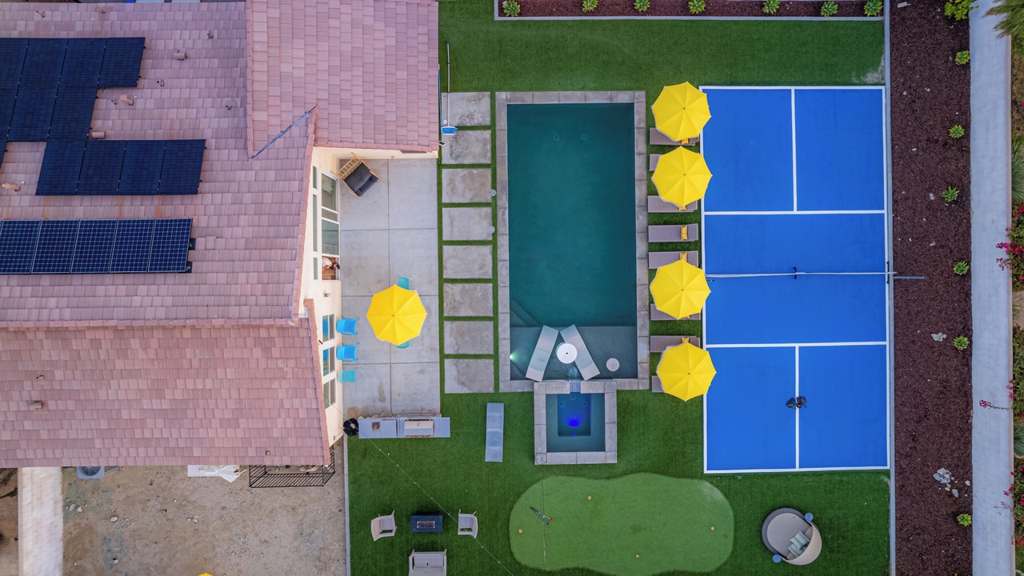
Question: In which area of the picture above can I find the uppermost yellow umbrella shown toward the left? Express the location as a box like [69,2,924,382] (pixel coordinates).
[367,284,430,346]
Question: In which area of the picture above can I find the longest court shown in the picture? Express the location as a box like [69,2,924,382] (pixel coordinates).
[700,86,890,473]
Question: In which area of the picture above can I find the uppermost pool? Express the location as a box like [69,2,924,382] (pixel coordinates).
[496,91,649,392]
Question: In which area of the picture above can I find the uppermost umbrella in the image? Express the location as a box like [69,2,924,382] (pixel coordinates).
[650,82,712,144]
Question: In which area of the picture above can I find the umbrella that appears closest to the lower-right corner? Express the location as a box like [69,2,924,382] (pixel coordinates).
[653,341,716,403]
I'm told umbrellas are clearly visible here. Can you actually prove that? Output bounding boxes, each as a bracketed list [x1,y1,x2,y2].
[367,284,430,346]
[653,341,716,403]
[649,259,712,322]
[652,146,714,208]
[650,82,712,144]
